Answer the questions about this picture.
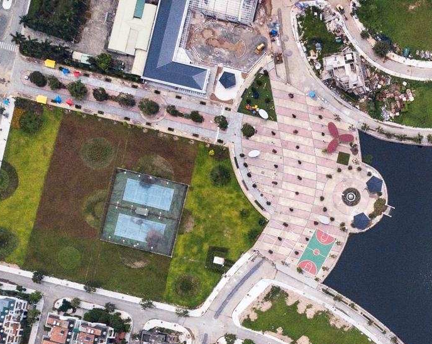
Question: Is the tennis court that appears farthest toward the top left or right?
left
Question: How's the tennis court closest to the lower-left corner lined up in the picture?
horizontally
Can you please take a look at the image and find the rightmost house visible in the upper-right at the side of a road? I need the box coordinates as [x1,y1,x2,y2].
[323,51,366,98]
